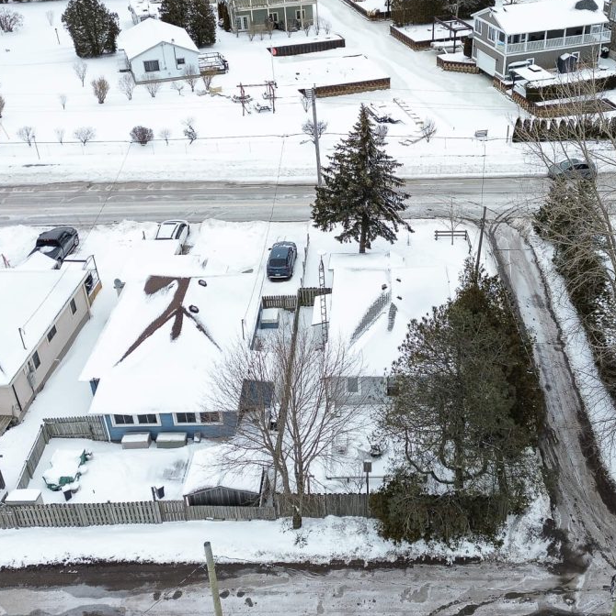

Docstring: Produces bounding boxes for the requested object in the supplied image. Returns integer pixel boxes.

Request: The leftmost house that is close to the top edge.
[123,18,200,82]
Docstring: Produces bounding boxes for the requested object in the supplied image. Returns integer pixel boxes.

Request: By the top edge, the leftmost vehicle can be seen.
[129,0,148,19]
